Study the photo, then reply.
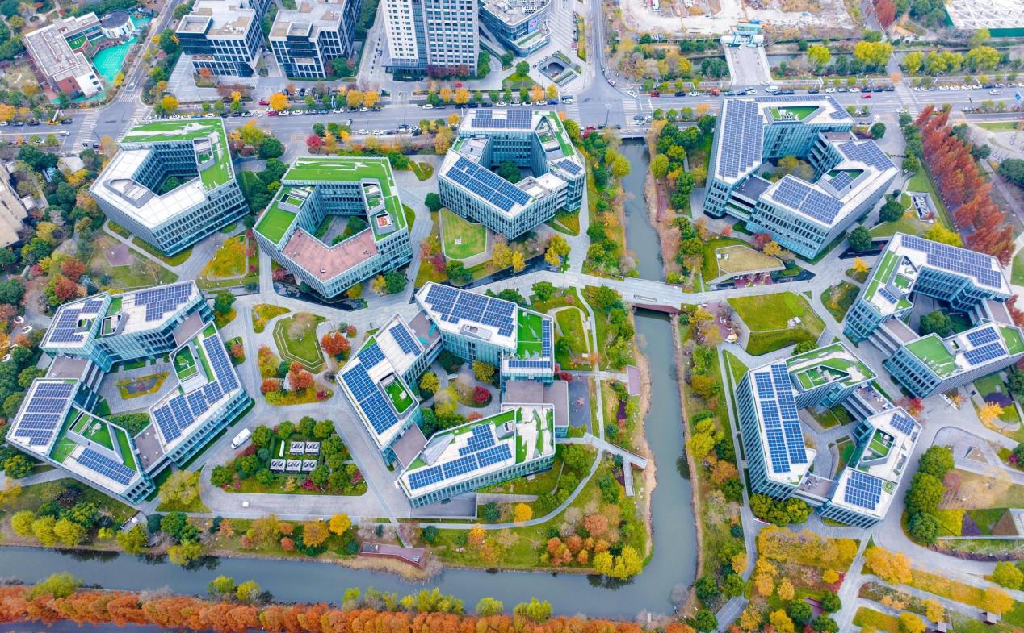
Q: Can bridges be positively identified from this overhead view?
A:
Yes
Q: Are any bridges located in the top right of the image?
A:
Yes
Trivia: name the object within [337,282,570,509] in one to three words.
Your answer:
building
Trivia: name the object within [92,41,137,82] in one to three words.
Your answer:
playground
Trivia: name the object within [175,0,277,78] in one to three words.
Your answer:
building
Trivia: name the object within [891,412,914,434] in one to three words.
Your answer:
solar array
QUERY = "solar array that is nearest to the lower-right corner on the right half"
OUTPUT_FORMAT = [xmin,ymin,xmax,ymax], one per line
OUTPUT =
[845,470,882,511]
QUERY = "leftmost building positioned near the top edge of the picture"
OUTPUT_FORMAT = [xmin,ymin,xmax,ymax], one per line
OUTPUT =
[25,12,110,96]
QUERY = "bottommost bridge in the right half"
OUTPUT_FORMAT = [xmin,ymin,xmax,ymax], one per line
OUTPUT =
[618,278,684,309]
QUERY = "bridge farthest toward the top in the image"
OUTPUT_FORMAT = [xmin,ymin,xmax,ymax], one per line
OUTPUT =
[726,45,776,86]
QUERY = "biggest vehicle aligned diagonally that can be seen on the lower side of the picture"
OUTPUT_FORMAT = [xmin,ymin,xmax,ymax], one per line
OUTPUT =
[229,426,250,449]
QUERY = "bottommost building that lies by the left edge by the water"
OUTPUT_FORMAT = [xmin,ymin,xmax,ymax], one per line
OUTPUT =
[6,280,252,505]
